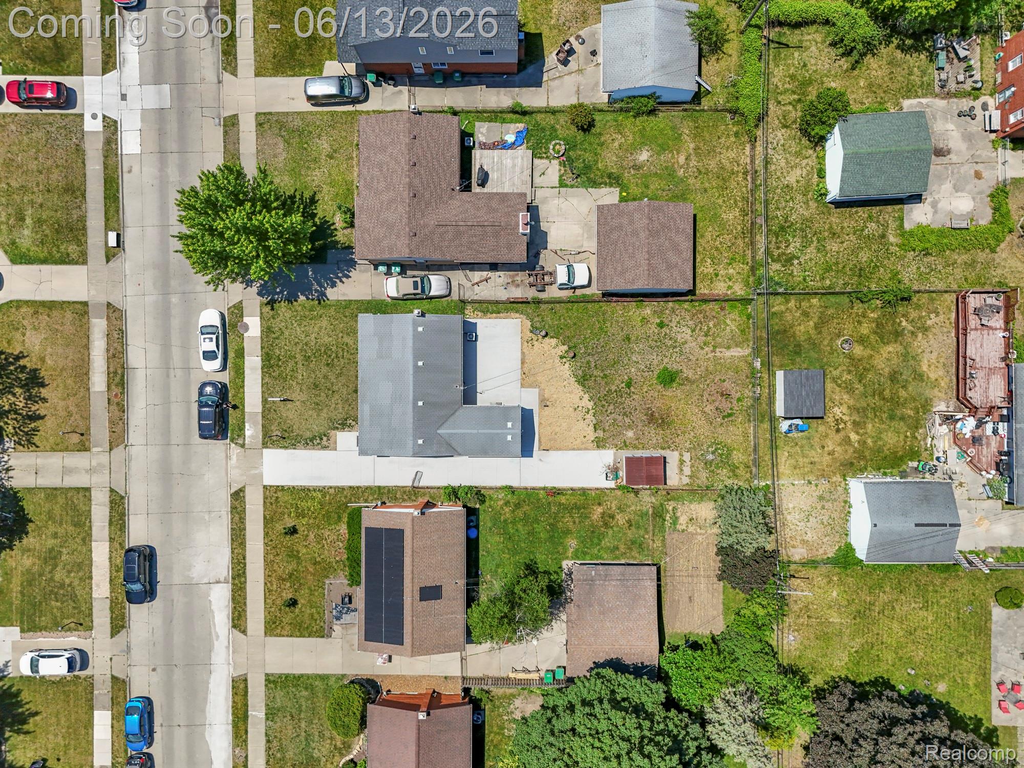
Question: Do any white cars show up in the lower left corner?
Yes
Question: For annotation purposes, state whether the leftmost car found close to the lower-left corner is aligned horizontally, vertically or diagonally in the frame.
horizontally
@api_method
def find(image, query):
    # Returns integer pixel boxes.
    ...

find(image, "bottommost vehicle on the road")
[127,747,155,768]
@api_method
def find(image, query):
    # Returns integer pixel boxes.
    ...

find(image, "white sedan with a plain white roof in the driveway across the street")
[22,647,84,677]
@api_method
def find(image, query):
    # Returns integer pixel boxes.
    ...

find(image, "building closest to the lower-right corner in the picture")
[848,478,961,564]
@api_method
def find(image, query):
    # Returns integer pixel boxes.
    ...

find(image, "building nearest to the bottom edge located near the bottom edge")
[367,683,472,768]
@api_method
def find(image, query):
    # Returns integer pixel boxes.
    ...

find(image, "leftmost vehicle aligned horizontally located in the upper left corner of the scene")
[8,77,72,109]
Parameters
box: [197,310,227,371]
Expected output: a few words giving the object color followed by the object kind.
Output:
white car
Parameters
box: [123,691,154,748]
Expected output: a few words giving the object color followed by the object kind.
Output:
blue car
